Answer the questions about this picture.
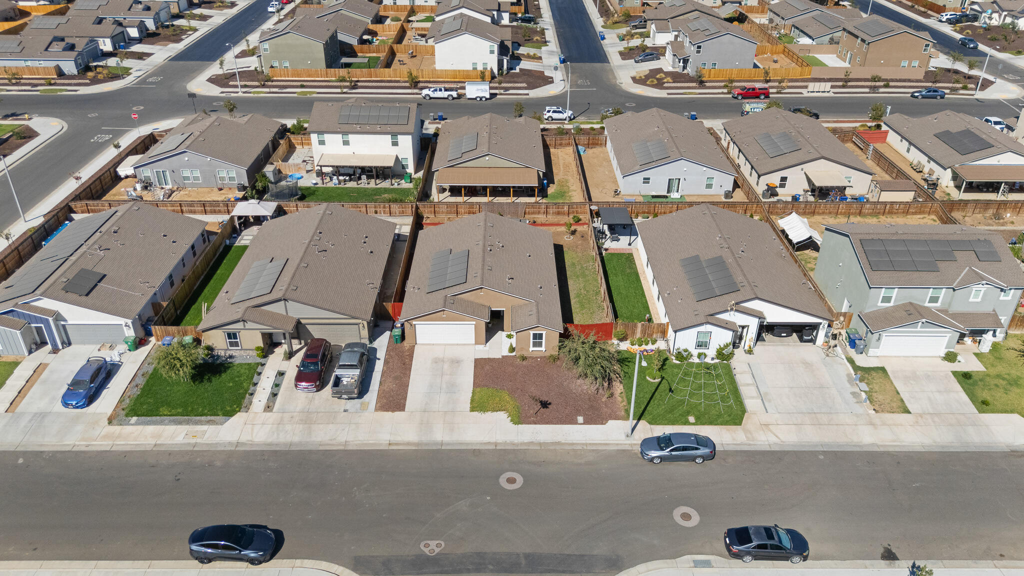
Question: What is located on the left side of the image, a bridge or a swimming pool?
swimming pool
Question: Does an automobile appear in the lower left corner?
Yes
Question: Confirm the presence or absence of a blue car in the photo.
Yes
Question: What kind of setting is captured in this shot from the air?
residential area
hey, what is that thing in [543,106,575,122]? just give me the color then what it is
white car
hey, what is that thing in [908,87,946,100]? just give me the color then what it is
blue vehicle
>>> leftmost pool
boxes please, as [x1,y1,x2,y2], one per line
[28,222,69,260]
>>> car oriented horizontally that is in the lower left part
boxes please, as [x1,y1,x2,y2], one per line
[187,524,280,566]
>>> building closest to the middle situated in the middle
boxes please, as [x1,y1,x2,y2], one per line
[398,210,564,359]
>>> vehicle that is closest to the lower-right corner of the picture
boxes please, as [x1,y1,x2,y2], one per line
[721,525,810,565]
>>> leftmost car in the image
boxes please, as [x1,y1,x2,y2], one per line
[57,356,114,409]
